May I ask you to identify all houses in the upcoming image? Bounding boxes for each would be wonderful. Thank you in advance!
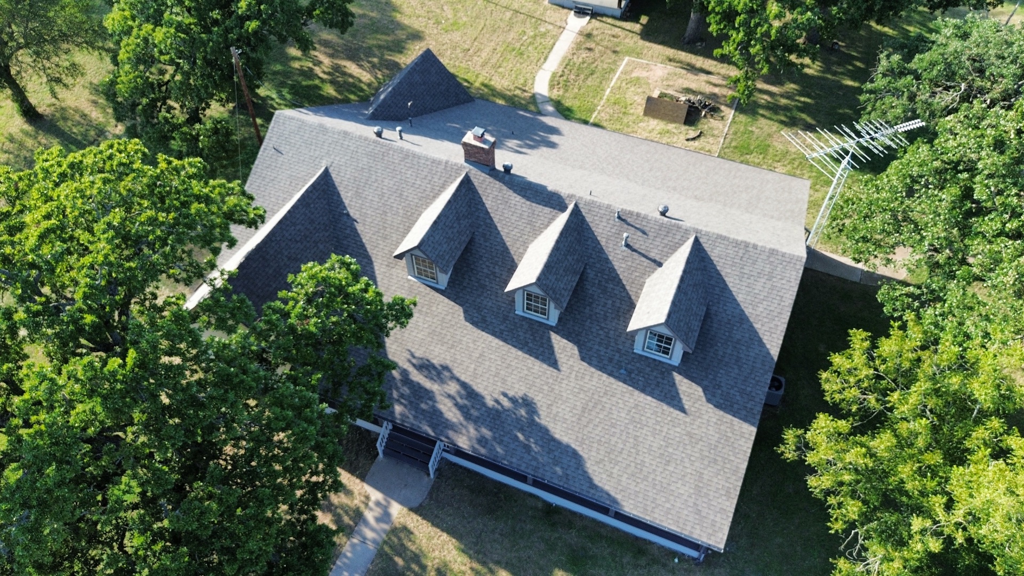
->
[170,49,811,569]
[546,0,631,17]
